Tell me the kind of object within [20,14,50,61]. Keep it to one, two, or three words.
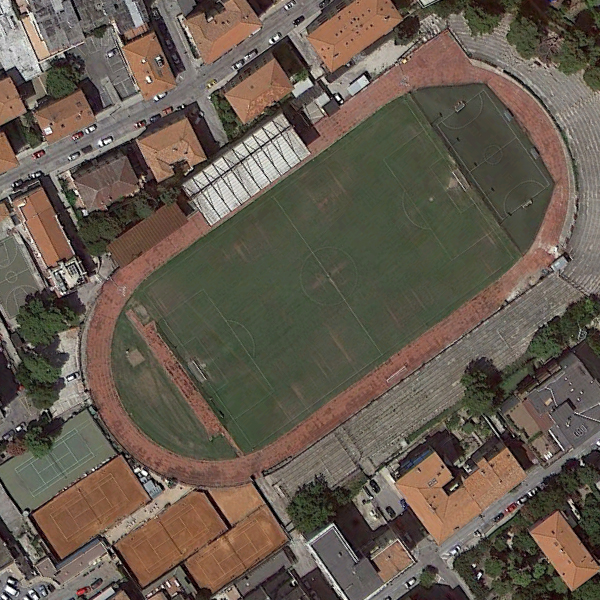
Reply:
building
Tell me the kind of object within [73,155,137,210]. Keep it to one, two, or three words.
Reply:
house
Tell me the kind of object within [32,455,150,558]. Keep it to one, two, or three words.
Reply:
tennis court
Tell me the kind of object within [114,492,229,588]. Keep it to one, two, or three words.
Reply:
tennis court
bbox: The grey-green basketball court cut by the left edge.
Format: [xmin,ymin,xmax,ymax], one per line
[0,230,50,324]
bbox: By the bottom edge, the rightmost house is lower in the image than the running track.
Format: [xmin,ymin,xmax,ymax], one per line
[527,507,600,591]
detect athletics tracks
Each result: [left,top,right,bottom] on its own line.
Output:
[86,31,567,489]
